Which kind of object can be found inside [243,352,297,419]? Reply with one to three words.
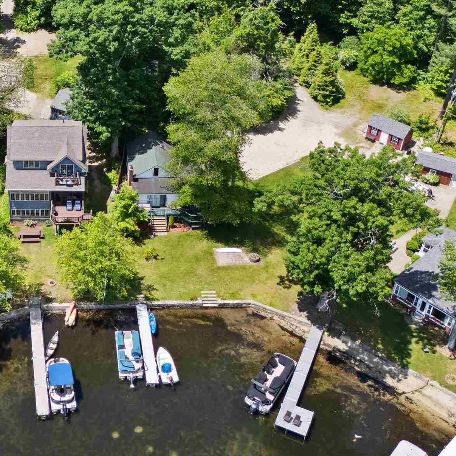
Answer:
boat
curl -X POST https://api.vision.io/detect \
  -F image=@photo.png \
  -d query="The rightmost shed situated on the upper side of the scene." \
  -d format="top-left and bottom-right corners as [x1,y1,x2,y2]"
[419,144,456,186]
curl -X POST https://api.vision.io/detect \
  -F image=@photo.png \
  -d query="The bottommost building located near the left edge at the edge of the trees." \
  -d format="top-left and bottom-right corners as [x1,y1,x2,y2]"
[6,115,93,236]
